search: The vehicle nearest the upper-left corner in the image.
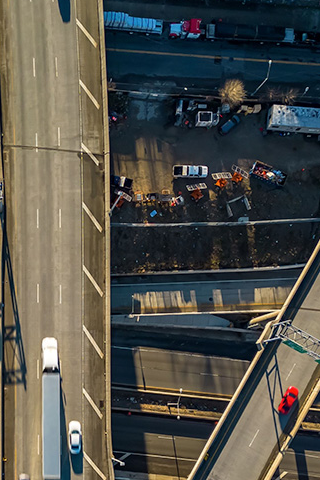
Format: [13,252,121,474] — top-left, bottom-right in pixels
[106,15,205,42]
